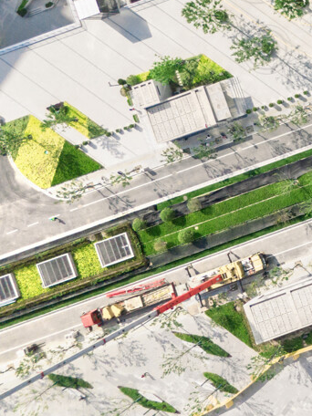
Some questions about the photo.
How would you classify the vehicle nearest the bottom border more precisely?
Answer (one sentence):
In the photo, the vehicle nearest the bottom border shows up as a truck.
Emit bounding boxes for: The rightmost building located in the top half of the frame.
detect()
[132,58,255,142]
